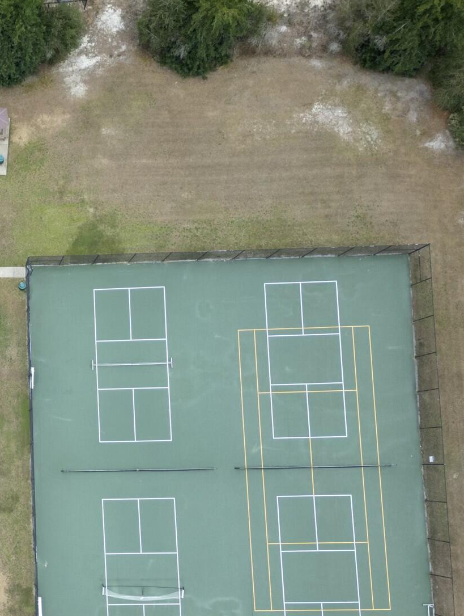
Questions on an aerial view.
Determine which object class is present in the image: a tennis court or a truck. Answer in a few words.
tennis court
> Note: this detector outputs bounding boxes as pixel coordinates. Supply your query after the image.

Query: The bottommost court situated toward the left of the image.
[102,497,182,616]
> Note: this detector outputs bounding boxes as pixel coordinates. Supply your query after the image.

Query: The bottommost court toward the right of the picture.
[277,495,361,616]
